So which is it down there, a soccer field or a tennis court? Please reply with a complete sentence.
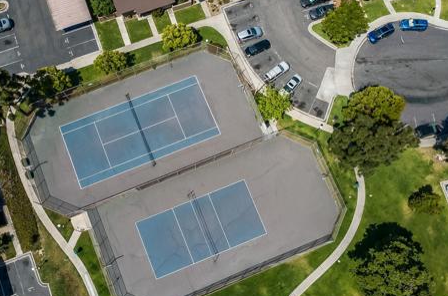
The image shows a tennis court.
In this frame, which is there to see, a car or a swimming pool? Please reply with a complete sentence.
This aerial view contains a car.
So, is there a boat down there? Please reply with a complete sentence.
No, the frame has no boat in it.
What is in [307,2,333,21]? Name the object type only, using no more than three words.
car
